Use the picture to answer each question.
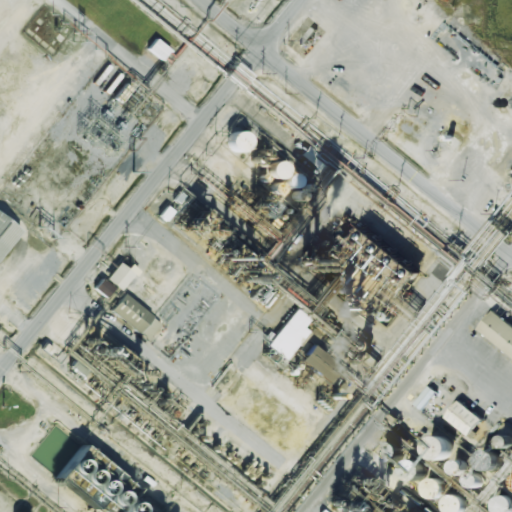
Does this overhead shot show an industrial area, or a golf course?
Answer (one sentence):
This image shows an industrial area.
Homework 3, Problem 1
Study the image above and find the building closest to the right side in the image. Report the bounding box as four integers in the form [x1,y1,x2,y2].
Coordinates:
[468,308,512,364]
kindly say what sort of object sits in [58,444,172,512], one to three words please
cooling tower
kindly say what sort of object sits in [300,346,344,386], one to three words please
building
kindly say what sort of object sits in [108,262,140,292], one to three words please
building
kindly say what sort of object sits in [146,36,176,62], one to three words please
shed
